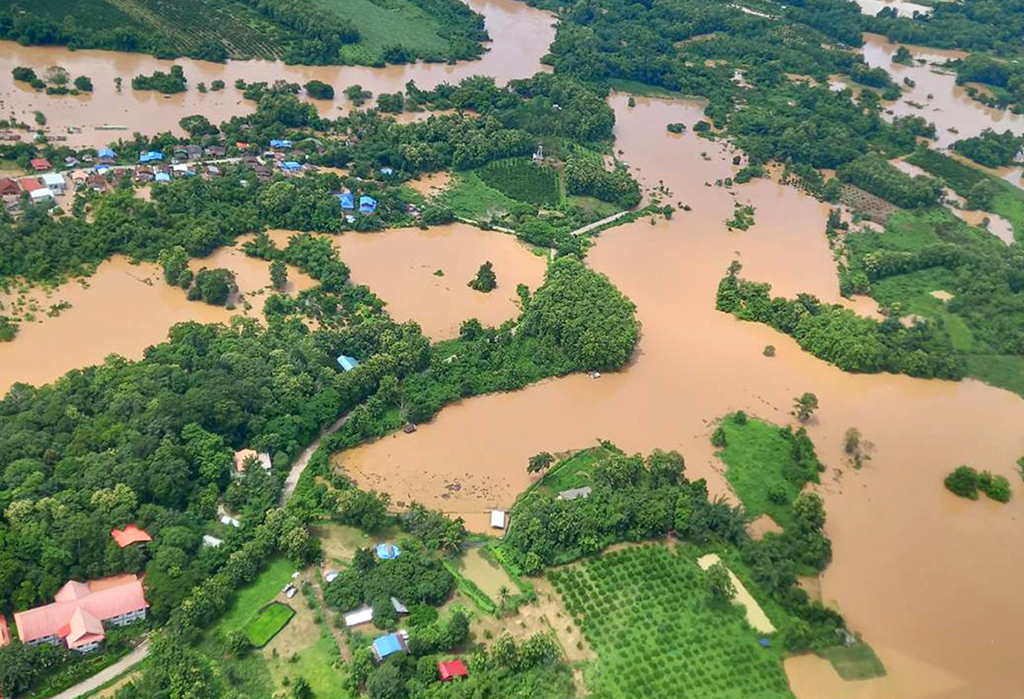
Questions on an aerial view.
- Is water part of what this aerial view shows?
Yes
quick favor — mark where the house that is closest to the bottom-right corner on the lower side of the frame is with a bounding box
[557,481,591,502]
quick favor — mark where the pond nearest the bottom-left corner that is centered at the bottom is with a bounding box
[453,547,524,604]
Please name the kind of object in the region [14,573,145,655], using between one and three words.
building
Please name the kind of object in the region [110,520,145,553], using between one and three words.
house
